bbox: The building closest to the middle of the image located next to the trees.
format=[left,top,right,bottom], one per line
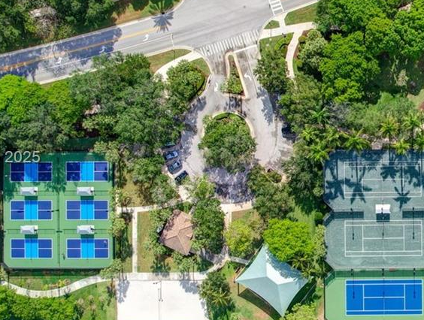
[162,215,194,251]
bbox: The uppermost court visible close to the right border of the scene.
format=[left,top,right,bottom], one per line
[325,150,424,209]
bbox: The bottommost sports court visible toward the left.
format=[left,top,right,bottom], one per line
[116,279,209,320]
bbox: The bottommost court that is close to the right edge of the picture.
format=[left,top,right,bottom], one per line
[325,271,424,320]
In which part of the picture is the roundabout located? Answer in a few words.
center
